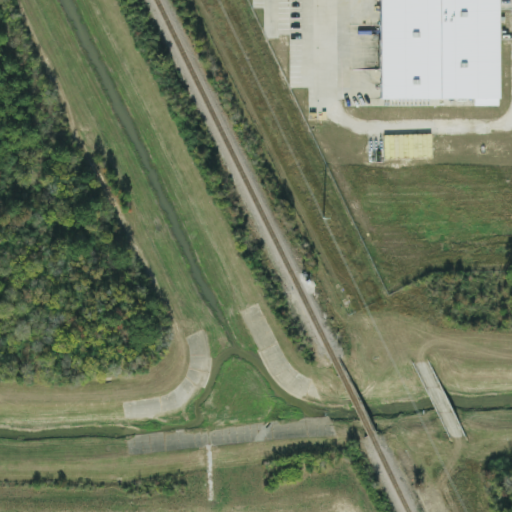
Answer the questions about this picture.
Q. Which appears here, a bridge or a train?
bridge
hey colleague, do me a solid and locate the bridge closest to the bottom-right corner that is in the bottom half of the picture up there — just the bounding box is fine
[414,356,464,442]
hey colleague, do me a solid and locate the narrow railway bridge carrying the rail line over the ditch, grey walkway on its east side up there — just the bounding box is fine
[328,353,377,440]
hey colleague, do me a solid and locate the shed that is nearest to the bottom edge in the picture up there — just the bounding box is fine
[385,134,432,160]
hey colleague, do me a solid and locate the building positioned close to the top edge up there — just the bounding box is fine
[381,0,503,106]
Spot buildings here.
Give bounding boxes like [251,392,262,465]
[381,0,503,106]
[385,134,432,160]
